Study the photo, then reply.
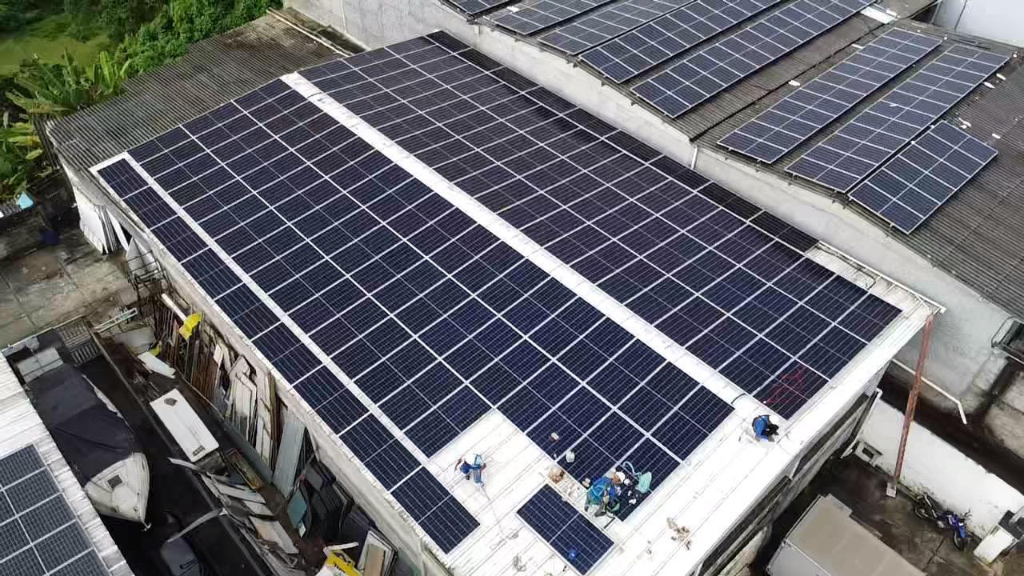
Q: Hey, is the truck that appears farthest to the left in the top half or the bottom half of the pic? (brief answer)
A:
bottom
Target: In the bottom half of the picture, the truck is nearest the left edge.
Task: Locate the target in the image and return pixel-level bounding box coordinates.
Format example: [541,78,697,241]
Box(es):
[766,491,935,576]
